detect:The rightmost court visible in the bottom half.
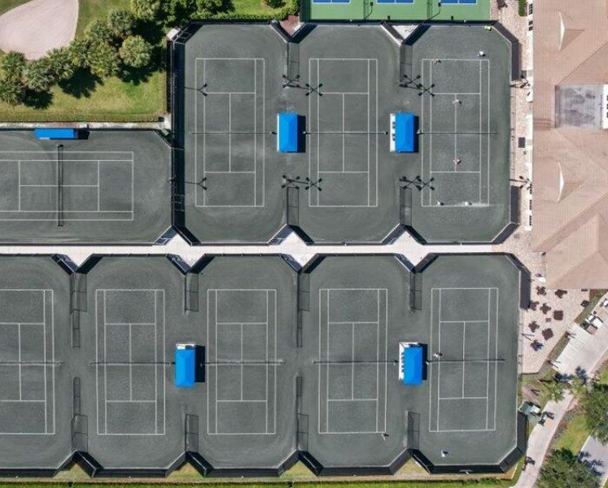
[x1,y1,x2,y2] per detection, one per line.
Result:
[409,256,520,464]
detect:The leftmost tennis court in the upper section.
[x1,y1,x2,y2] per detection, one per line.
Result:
[0,130,172,243]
